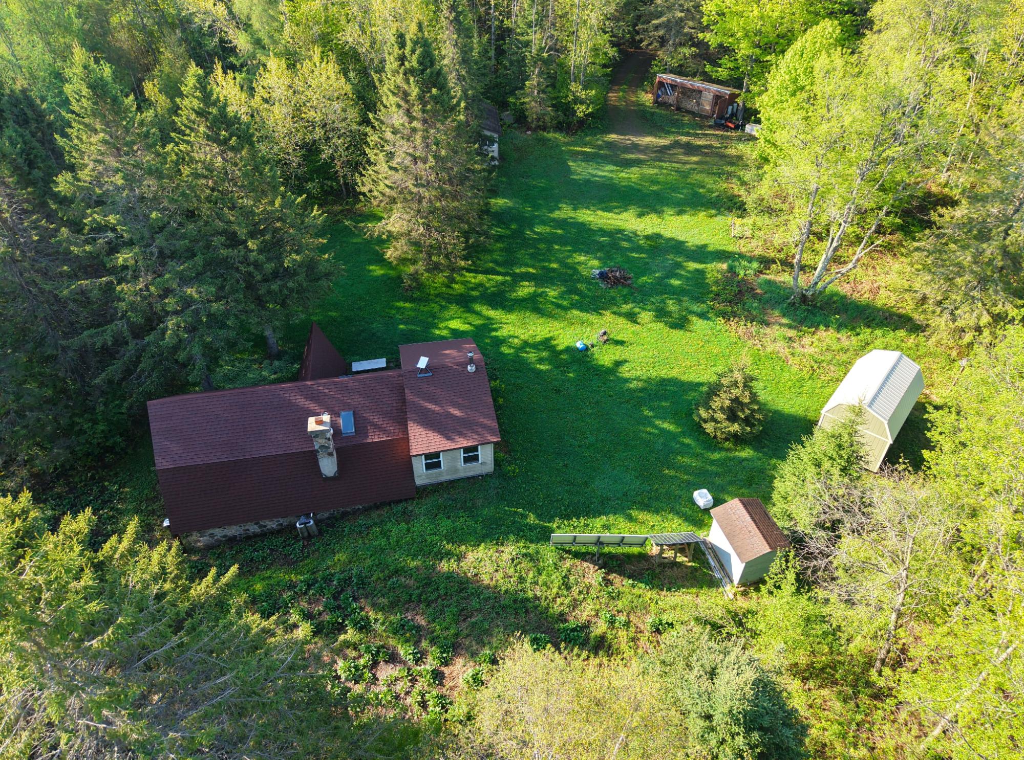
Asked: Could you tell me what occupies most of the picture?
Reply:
trees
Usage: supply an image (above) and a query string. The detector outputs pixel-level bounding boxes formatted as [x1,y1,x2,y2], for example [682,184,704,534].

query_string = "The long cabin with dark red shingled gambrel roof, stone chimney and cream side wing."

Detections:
[152,322,498,542]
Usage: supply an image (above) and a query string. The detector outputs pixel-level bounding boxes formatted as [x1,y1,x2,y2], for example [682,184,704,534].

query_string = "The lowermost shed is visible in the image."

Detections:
[704,498,792,585]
